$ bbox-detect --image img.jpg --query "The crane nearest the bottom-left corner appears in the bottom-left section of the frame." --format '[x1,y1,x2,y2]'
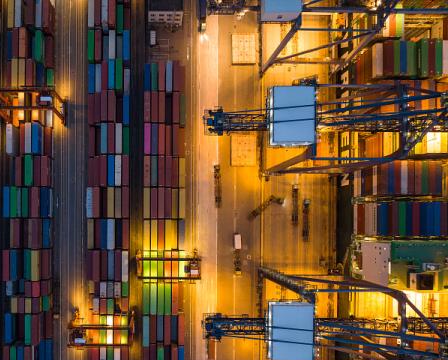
[68,310,137,348]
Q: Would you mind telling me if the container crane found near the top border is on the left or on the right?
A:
right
